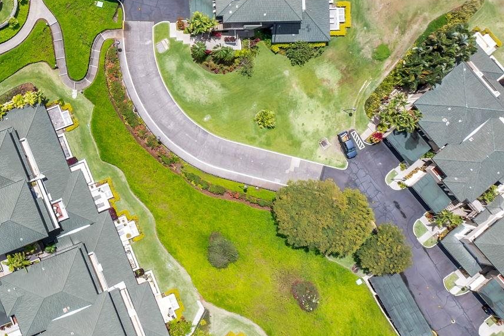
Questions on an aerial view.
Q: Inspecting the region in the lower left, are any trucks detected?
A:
No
